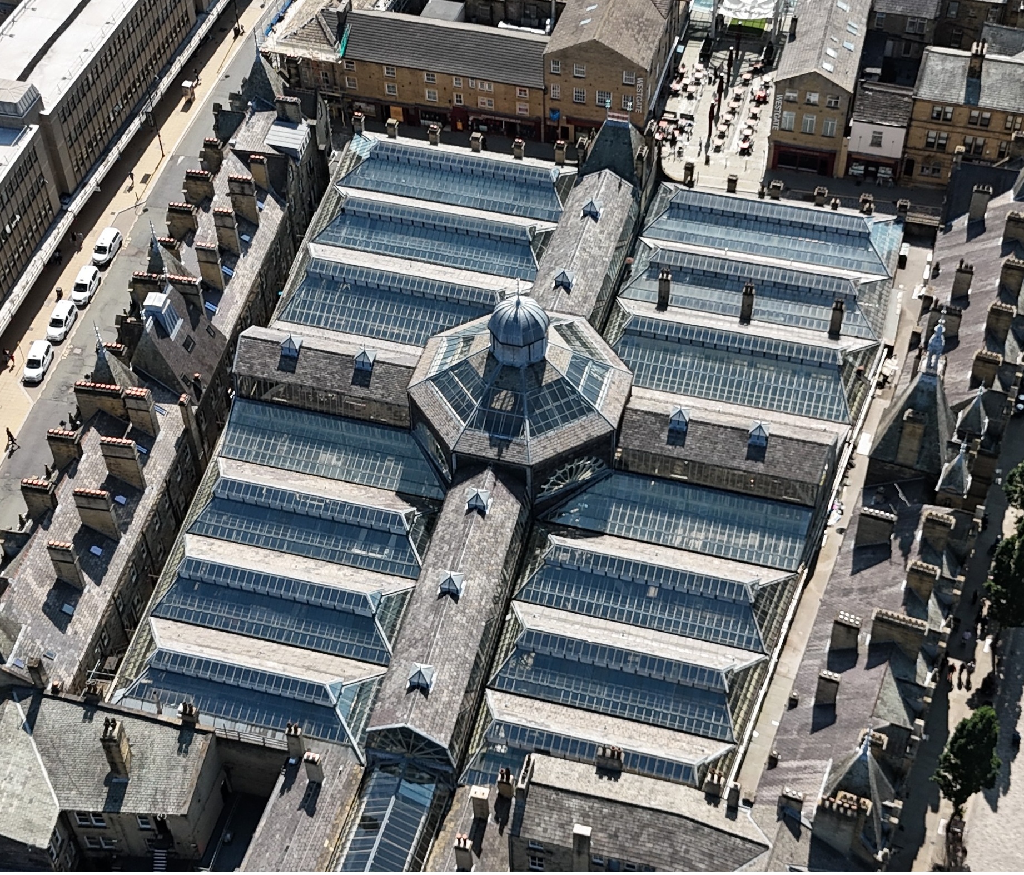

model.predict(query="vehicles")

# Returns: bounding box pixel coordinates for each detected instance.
[46,300,78,340]
[92,226,123,264]
[71,265,102,304]
[24,340,57,382]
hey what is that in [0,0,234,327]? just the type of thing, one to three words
building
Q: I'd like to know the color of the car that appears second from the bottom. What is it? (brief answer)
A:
white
